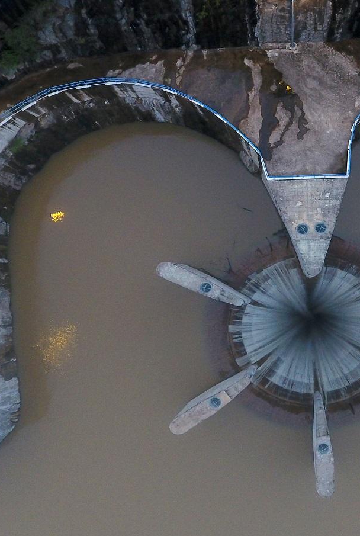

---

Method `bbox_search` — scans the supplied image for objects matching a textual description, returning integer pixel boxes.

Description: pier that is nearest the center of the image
[157,260,268,308]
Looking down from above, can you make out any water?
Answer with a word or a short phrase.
Yes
